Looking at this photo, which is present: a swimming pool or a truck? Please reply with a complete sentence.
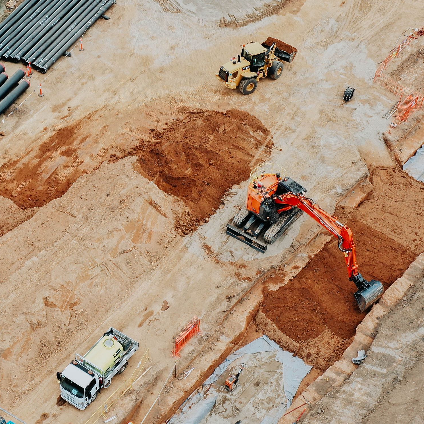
This aerial view contains a truck.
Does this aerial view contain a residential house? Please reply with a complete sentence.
No, there is no residential house in the image.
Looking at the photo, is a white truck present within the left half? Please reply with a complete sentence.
Yes, a white truck is visible within the left half.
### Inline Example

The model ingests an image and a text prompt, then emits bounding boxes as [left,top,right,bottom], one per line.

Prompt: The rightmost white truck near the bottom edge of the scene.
[49,323,147,416]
